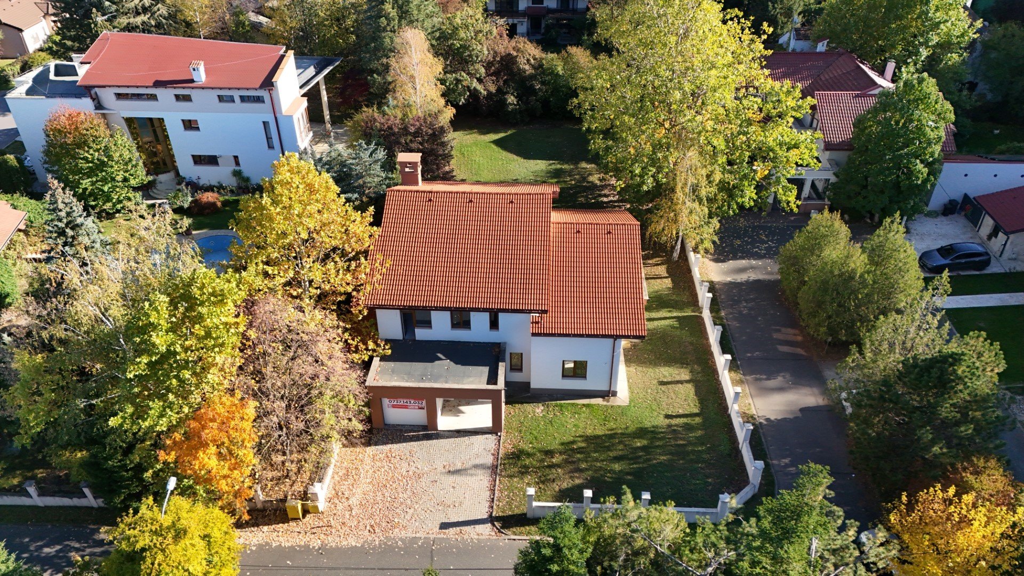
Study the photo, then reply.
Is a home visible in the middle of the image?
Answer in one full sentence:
Yes, a home shows up in the middle of the image.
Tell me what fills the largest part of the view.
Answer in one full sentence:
The bulk of the photo consists of trees.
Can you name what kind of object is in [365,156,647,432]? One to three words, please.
house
